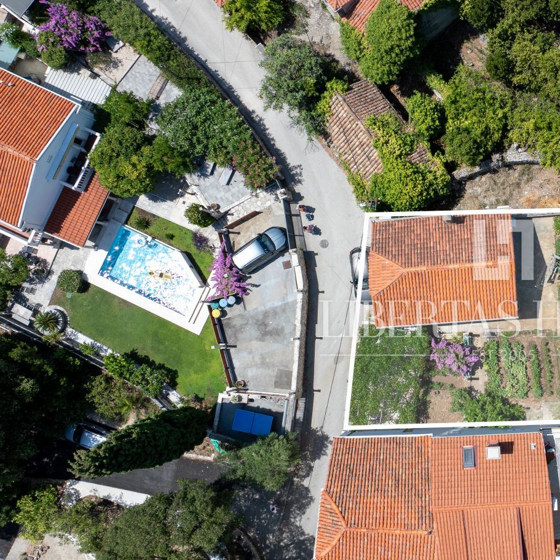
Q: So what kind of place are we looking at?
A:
residential area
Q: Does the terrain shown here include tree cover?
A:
Yes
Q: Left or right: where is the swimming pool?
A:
left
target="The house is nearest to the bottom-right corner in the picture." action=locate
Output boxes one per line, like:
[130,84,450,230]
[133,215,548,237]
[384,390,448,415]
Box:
[432,422,559,560]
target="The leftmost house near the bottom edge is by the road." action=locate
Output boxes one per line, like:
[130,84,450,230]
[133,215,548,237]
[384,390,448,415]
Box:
[313,424,438,560]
